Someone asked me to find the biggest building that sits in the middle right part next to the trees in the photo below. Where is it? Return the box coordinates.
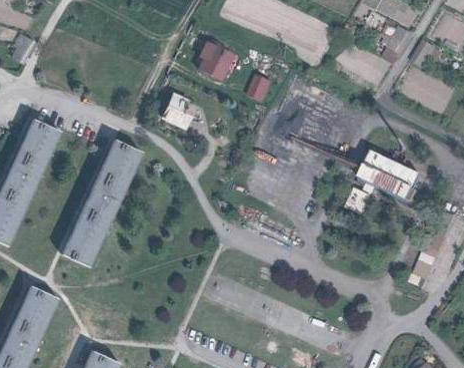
[356,150,418,201]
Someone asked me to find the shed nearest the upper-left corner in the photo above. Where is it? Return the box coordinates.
[11,34,35,65]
